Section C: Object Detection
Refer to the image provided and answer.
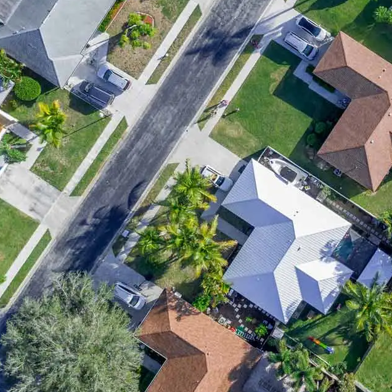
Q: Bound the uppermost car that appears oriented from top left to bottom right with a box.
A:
[295,13,331,45]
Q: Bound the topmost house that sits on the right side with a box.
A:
[313,30,392,192]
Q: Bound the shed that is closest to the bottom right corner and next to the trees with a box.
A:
[356,247,392,289]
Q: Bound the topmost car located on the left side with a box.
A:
[96,62,133,91]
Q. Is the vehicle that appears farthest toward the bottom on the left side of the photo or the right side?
left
